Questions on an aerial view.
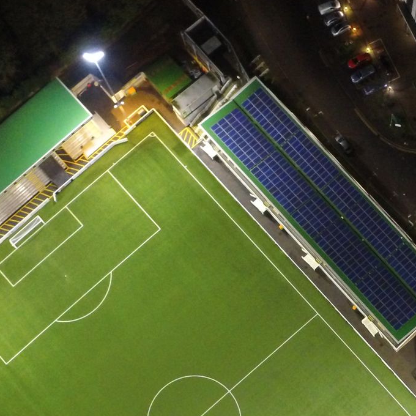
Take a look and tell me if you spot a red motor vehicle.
Yes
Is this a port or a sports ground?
sports ground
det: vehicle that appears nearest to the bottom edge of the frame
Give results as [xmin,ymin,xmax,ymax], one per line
[335,134,353,155]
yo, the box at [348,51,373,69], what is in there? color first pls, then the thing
red car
